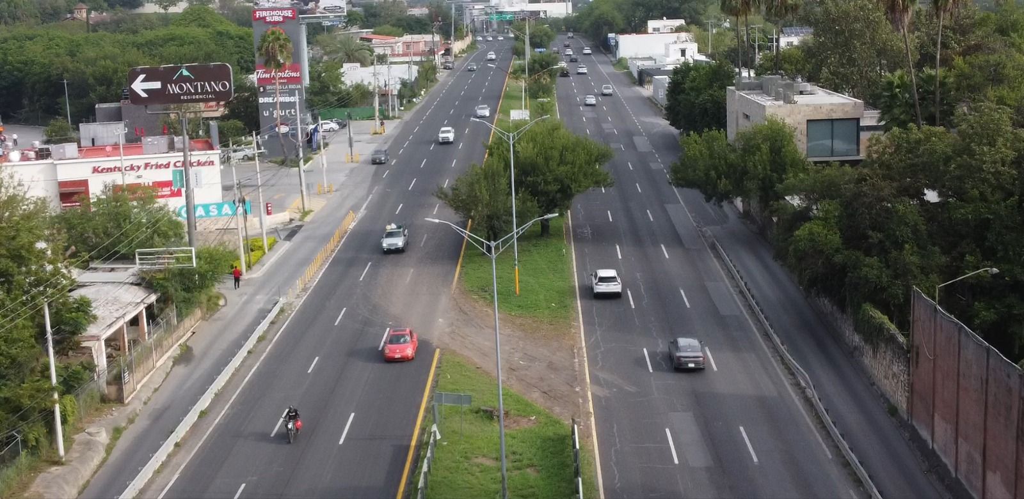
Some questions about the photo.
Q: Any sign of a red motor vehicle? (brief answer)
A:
Yes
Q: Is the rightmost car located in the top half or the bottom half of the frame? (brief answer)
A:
bottom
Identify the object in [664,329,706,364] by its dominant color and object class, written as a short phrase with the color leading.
gray car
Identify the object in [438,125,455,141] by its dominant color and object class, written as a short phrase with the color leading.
white car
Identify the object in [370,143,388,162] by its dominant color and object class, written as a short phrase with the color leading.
gray car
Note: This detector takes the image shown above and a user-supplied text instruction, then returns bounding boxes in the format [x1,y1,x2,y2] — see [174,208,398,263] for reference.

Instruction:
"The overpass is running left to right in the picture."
[419,0,572,29]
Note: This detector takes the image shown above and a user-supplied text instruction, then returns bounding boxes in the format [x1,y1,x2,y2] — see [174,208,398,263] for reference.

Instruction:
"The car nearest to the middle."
[588,262,621,292]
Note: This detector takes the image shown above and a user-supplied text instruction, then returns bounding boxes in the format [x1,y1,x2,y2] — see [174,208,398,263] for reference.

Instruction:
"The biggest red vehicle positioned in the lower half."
[378,324,415,359]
